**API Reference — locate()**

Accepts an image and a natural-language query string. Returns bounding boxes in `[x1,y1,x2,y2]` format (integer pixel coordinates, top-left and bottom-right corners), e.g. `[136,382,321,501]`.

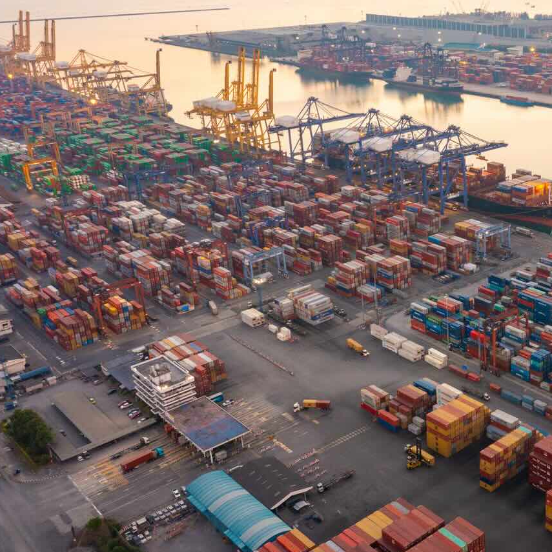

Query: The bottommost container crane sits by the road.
[481,314,531,375]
